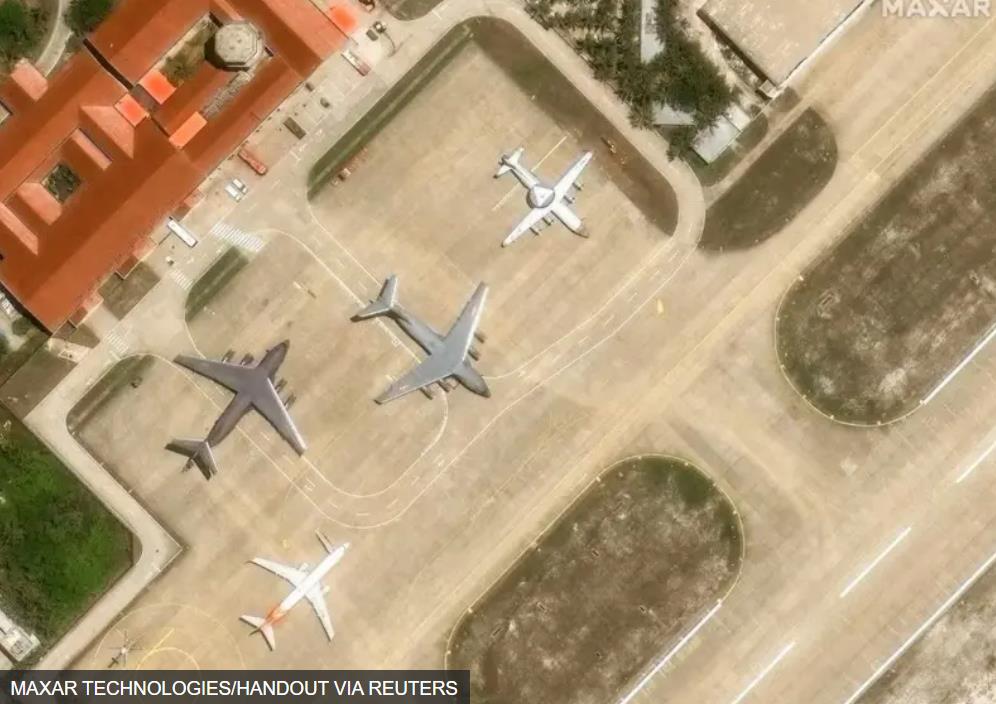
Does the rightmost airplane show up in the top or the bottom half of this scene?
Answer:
top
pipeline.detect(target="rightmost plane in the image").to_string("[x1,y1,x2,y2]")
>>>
[493,146,589,246]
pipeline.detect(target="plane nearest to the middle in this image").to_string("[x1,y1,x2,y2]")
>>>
[351,269,489,400]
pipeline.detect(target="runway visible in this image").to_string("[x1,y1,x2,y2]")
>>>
[623,331,996,704]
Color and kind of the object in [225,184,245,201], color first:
white vehicle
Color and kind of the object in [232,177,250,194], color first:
white vehicle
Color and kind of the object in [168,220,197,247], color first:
white bus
